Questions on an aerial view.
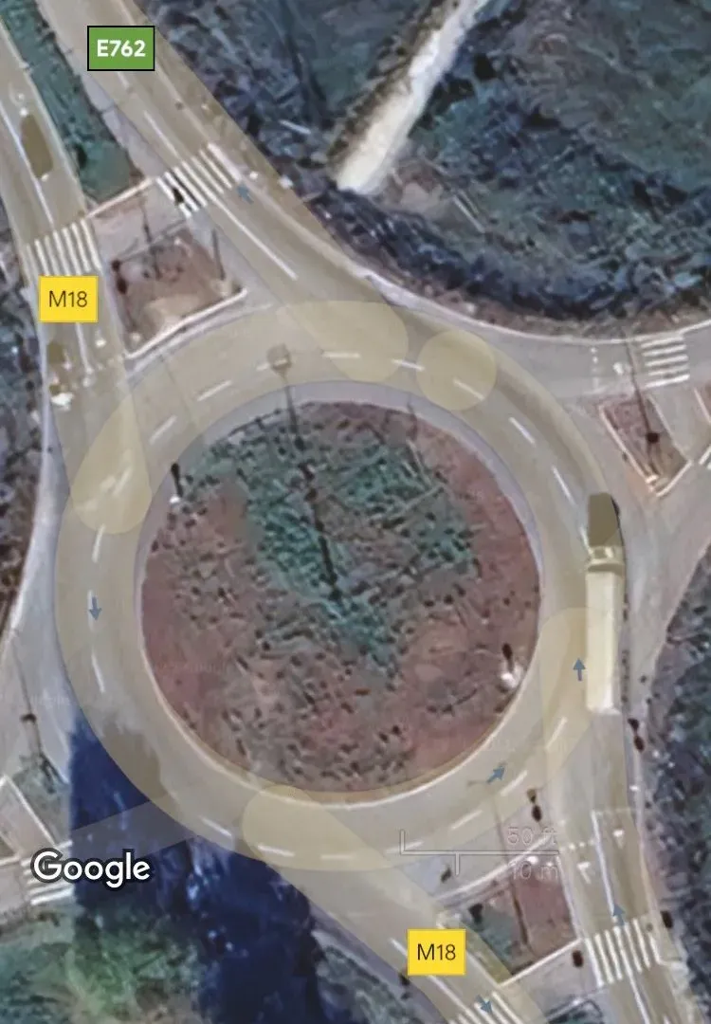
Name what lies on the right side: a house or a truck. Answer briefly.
truck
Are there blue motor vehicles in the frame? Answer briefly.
No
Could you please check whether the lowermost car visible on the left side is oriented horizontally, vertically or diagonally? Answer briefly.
vertically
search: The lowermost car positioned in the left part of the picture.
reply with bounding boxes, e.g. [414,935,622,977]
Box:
[51,365,74,409]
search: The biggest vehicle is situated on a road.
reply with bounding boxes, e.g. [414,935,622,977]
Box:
[588,527,621,712]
